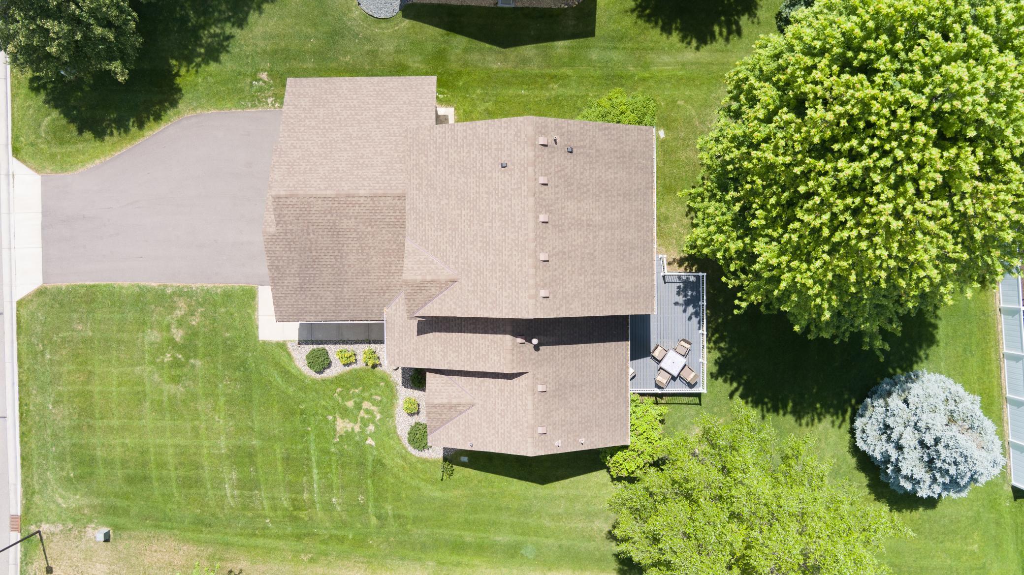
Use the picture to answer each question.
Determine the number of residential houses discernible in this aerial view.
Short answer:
1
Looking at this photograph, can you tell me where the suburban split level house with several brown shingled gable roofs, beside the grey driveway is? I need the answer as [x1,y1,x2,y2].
[263,75,658,457]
